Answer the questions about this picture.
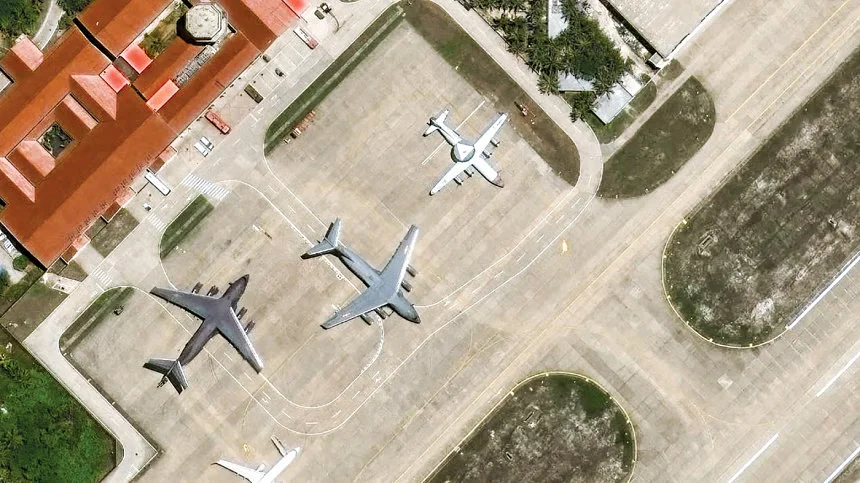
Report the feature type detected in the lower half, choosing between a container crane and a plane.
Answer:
plane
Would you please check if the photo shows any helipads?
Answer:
No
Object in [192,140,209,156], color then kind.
white vehicle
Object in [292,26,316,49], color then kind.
white bus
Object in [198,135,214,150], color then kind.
white vehicle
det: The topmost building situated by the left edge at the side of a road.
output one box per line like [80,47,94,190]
[0,0,317,270]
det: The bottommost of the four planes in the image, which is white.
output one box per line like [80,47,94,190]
[214,447,300,483]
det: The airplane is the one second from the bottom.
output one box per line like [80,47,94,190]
[149,274,262,391]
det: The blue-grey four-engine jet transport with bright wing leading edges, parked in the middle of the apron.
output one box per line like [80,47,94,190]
[304,215,421,328]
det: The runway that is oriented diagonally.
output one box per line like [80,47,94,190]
[632,260,860,483]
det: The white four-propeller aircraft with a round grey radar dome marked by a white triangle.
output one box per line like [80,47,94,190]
[421,108,506,196]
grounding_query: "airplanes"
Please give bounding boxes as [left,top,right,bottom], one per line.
[421,108,506,196]
[304,215,421,328]
[149,274,262,391]
[214,447,300,483]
